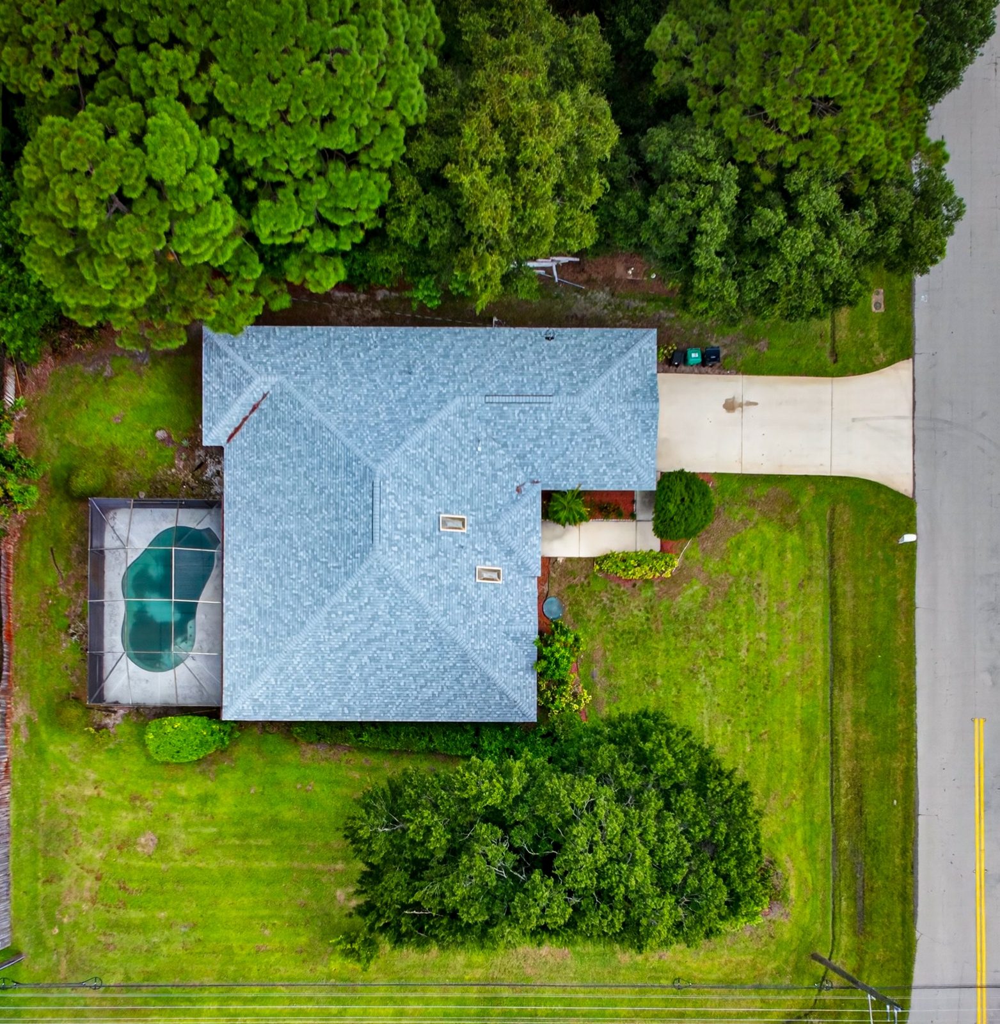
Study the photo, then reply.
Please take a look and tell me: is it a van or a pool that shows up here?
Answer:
pool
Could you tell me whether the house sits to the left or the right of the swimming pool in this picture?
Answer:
on its right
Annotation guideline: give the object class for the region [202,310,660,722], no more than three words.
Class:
house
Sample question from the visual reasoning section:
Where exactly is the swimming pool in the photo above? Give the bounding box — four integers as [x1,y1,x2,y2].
[119,523,220,674]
